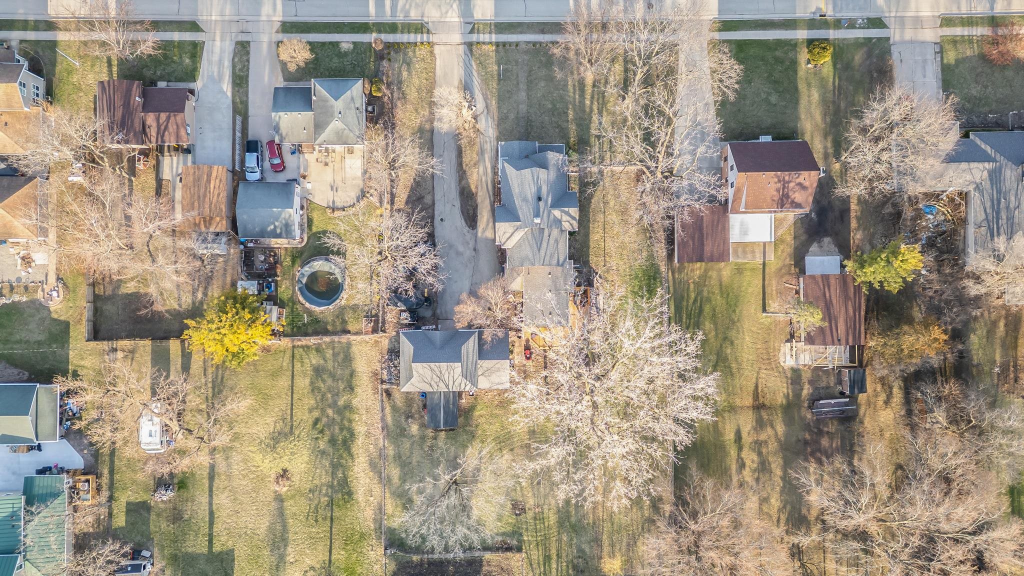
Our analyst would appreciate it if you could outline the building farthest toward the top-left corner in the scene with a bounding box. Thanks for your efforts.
[0,47,61,155]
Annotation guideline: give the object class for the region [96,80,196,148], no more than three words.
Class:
house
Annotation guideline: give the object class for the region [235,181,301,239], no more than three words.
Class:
building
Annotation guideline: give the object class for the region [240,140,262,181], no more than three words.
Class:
truck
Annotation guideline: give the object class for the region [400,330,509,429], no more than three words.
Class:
building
